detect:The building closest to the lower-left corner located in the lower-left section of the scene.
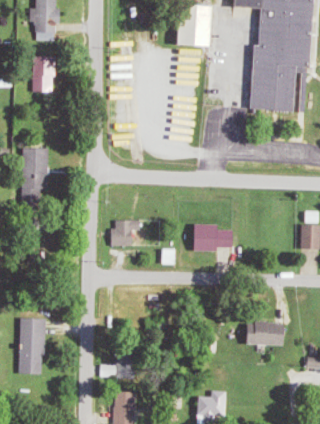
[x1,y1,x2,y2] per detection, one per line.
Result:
[18,318,44,374]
